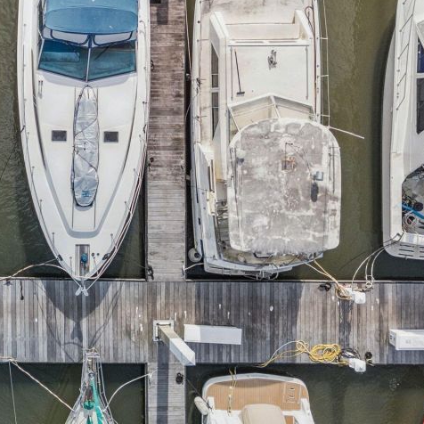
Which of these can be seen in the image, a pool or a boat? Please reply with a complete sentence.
Visible in the photo is a boat.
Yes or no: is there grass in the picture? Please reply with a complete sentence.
No, there is no grass in the image.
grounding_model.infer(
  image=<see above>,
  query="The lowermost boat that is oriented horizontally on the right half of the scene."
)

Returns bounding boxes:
[197,371,314,424]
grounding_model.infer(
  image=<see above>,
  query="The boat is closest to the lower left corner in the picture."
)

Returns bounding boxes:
[67,348,117,424]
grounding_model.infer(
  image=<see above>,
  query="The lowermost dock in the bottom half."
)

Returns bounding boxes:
[144,365,187,424]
